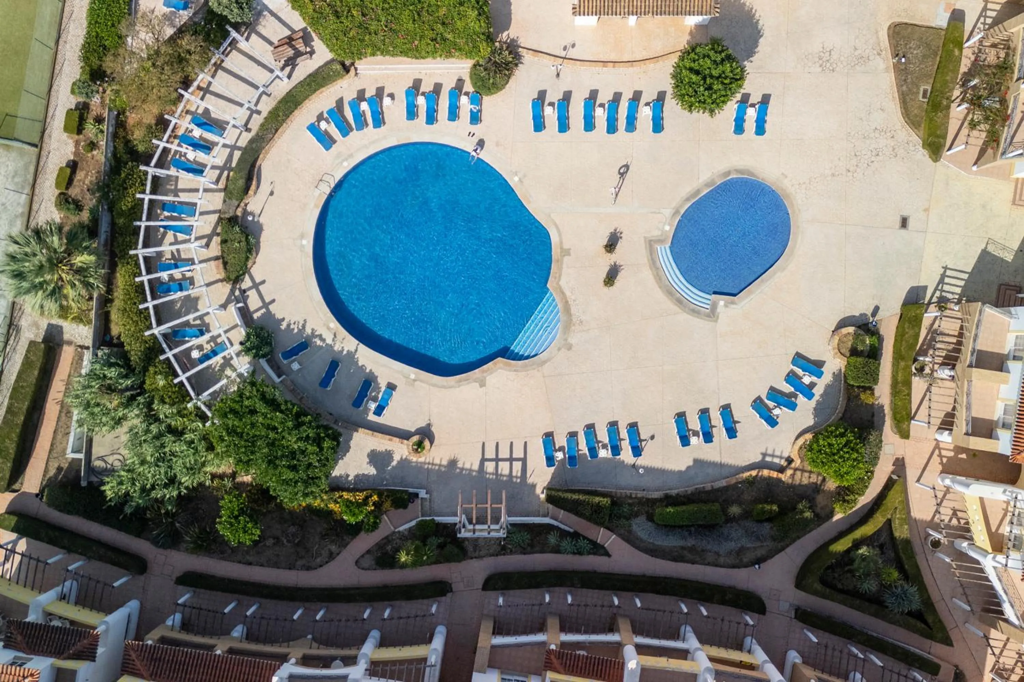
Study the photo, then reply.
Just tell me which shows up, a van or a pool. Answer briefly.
pool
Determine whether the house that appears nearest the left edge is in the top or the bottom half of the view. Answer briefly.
bottom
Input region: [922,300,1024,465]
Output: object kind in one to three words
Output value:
house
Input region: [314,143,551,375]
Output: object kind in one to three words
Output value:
swimming pool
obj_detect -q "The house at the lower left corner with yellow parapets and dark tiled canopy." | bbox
[0,573,154,682]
